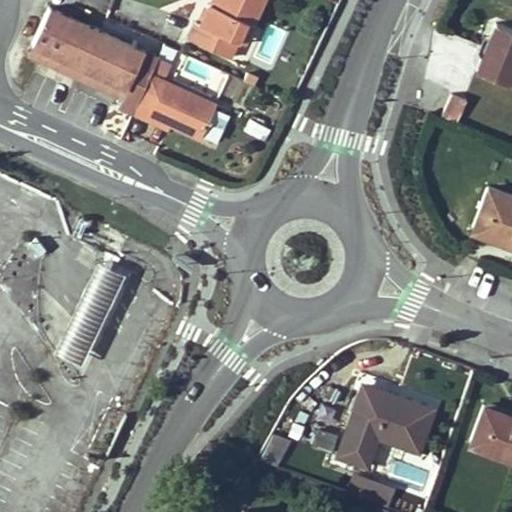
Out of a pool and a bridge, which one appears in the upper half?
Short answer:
pool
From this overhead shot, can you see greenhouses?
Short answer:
Yes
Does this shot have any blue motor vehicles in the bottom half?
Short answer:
No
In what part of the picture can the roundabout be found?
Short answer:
center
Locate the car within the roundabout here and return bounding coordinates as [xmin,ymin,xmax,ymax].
[251,270,268,292]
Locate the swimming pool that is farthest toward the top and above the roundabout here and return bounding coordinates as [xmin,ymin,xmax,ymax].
[245,22,291,72]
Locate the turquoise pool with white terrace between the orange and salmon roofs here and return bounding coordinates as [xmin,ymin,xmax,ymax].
[176,56,230,99]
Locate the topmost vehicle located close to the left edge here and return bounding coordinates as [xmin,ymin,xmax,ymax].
[22,15,37,37]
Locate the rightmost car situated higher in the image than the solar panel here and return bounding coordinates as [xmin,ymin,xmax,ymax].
[164,13,186,29]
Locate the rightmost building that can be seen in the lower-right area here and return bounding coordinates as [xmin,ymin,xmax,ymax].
[466,404,512,468]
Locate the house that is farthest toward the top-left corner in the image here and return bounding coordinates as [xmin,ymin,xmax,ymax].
[28,8,147,98]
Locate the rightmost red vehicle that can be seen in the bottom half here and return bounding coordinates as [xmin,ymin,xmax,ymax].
[360,356,382,368]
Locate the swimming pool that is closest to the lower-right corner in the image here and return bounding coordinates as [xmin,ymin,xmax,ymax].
[385,448,442,502]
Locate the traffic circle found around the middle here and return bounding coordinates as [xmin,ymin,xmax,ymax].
[230,180,382,336]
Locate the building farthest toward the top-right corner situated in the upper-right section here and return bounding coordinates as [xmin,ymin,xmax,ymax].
[476,24,512,90]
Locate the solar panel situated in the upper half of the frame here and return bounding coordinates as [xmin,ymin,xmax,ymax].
[150,110,194,135]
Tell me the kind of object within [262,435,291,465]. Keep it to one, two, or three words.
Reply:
shed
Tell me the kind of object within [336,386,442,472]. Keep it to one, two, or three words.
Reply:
house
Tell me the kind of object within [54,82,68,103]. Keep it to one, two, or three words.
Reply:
car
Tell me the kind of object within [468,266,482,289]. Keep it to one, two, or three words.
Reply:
vehicle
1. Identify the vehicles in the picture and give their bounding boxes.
[22,15,37,37]
[309,370,330,389]
[164,13,186,29]
[332,352,354,370]
[251,270,268,292]
[186,380,203,402]
[149,126,164,144]
[130,118,144,139]
[468,266,482,289]
[478,273,494,300]
[360,356,382,368]
[92,102,106,124]
[54,82,68,103]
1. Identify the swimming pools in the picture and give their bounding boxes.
[245,22,291,72]
[176,56,230,99]
[385,448,442,502]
